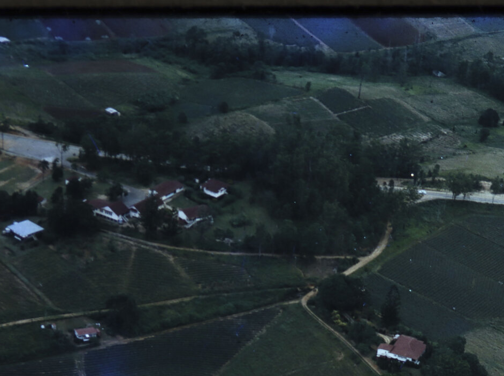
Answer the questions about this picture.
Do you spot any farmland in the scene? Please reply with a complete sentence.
Yes, there's farmland in this view.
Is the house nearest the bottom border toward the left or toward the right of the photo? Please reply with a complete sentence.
The house nearest the bottom border appears in the right half of the scene.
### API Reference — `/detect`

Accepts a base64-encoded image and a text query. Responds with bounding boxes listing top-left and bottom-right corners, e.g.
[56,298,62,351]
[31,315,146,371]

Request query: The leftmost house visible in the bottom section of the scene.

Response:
[7,218,48,241]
